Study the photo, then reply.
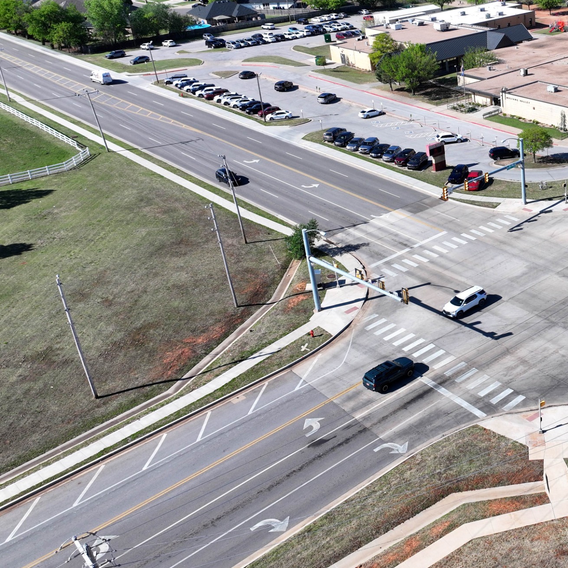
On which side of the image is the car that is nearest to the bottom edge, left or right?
right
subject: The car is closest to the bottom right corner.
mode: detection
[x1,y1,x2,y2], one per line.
[358,360,417,398]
